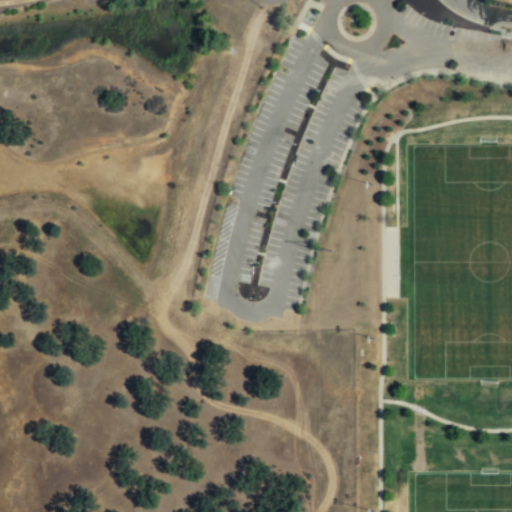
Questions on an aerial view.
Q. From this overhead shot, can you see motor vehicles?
No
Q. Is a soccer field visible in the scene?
Yes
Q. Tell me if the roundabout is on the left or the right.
right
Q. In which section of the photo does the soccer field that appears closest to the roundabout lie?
right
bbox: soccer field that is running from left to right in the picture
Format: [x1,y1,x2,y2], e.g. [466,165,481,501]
[410,474,512,512]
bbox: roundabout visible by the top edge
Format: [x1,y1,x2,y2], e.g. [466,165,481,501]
[326,0,390,54]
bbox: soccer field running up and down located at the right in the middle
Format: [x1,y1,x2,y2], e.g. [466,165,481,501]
[408,145,512,379]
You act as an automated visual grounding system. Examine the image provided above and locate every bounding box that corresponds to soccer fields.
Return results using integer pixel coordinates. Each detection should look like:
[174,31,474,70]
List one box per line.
[408,145,512,379]
[410,474,512,512]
